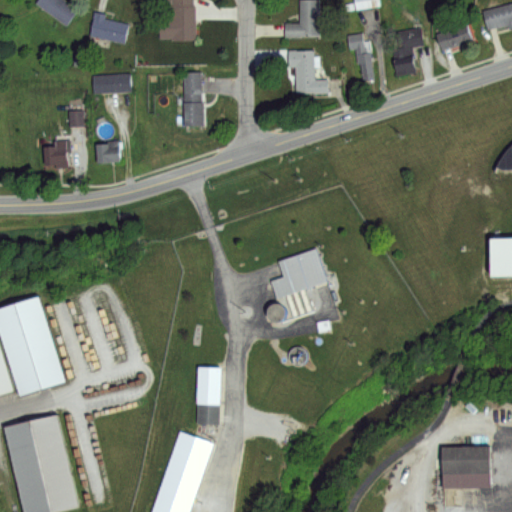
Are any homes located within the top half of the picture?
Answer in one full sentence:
Yes, you'll find a home within the top half of the picture.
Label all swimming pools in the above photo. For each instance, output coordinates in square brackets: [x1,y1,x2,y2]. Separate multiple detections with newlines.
[98,123,114,140]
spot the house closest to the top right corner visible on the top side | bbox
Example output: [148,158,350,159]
[483,3,512,31]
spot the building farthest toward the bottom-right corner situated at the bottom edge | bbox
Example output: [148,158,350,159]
[440,444,492,488]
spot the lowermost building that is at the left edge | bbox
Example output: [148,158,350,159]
[4,415,80,512]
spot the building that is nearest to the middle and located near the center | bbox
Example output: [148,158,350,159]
[271,249,328,298]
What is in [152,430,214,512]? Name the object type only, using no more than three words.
shed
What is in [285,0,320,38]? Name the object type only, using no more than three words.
house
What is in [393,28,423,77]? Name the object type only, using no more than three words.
house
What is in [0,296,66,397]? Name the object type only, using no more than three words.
building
